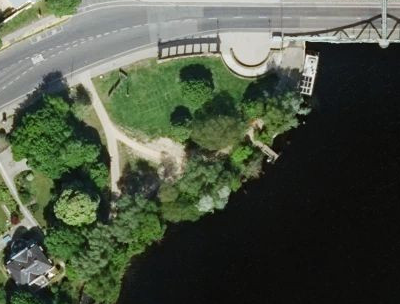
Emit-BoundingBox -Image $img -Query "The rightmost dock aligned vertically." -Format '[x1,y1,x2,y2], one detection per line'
[300,54,319,95]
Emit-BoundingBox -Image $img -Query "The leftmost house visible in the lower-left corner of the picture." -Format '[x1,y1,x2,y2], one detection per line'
[4,244,54,288]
